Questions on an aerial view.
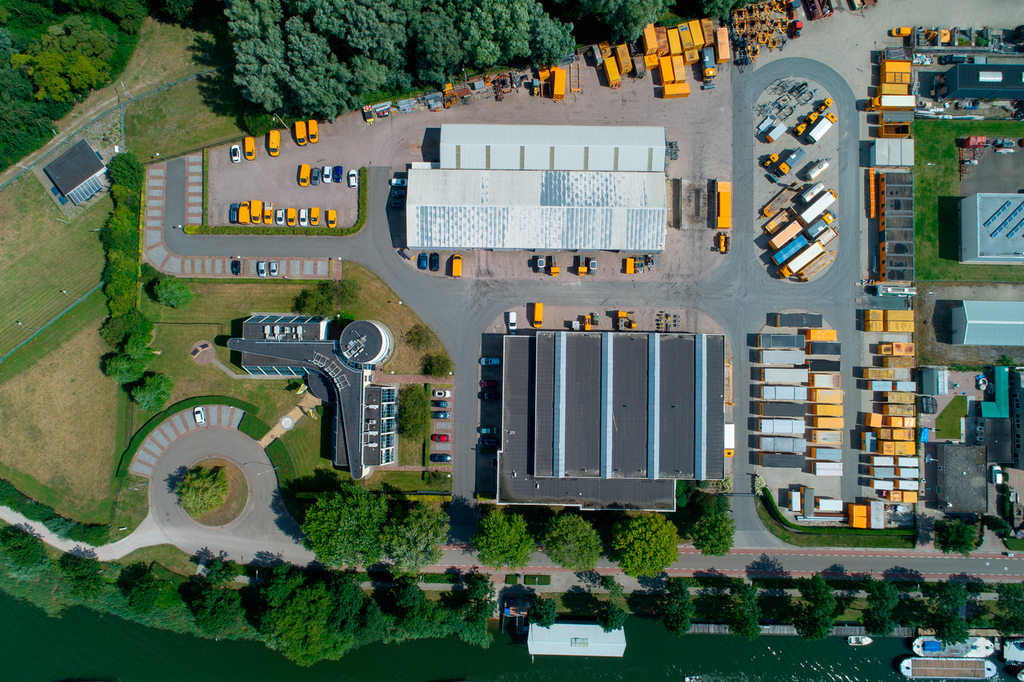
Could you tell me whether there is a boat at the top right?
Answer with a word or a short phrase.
No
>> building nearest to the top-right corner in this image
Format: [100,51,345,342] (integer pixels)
[941,61,1024,99]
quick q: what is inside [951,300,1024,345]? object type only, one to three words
shed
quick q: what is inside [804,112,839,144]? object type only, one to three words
truck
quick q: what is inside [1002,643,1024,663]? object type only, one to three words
boat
